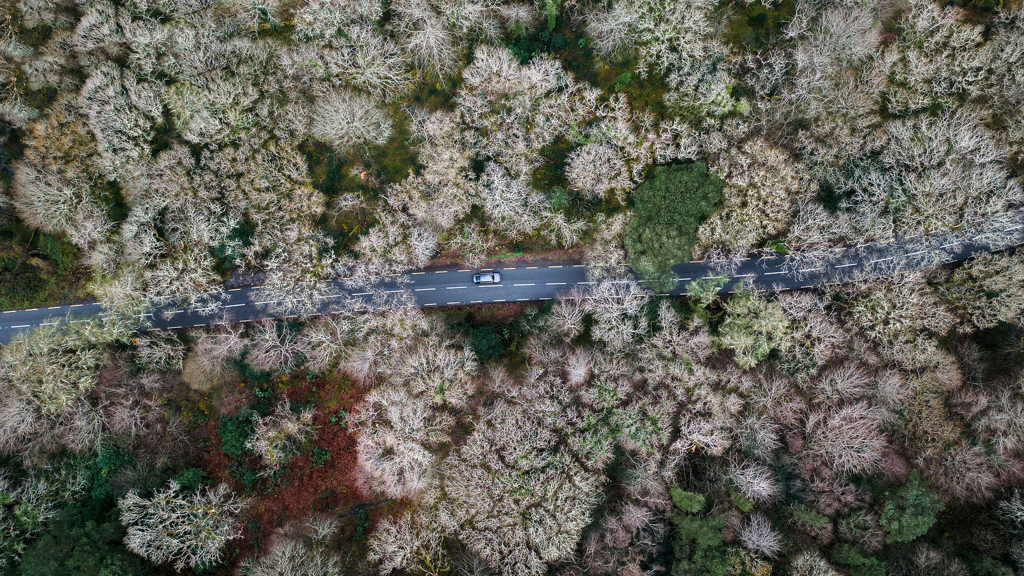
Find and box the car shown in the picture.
[473,272,501,284]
